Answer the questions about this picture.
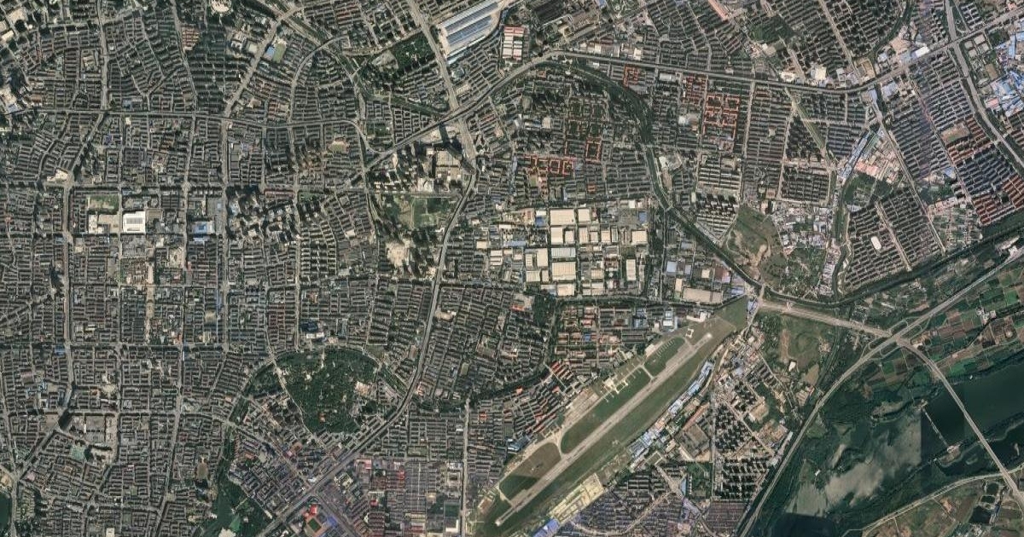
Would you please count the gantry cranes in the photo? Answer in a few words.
none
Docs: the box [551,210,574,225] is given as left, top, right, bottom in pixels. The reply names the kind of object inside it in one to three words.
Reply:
building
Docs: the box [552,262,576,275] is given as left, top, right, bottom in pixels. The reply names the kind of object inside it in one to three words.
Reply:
building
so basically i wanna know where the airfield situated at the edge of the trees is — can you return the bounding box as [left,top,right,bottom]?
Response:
[471,296,749,537]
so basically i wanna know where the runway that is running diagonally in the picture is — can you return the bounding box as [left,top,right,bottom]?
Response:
[496,332,712,525]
